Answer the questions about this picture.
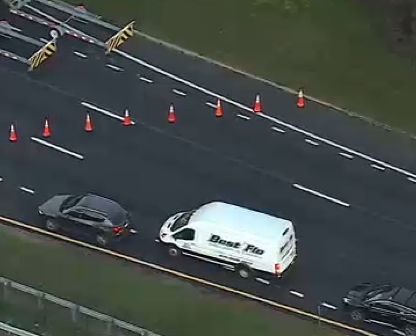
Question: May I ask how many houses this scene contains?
0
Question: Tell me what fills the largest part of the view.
paved ground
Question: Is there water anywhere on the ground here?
No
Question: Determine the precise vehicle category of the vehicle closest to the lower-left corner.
car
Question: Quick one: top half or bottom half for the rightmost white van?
bottom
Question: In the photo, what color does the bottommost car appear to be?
black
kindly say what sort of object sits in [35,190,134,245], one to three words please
car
